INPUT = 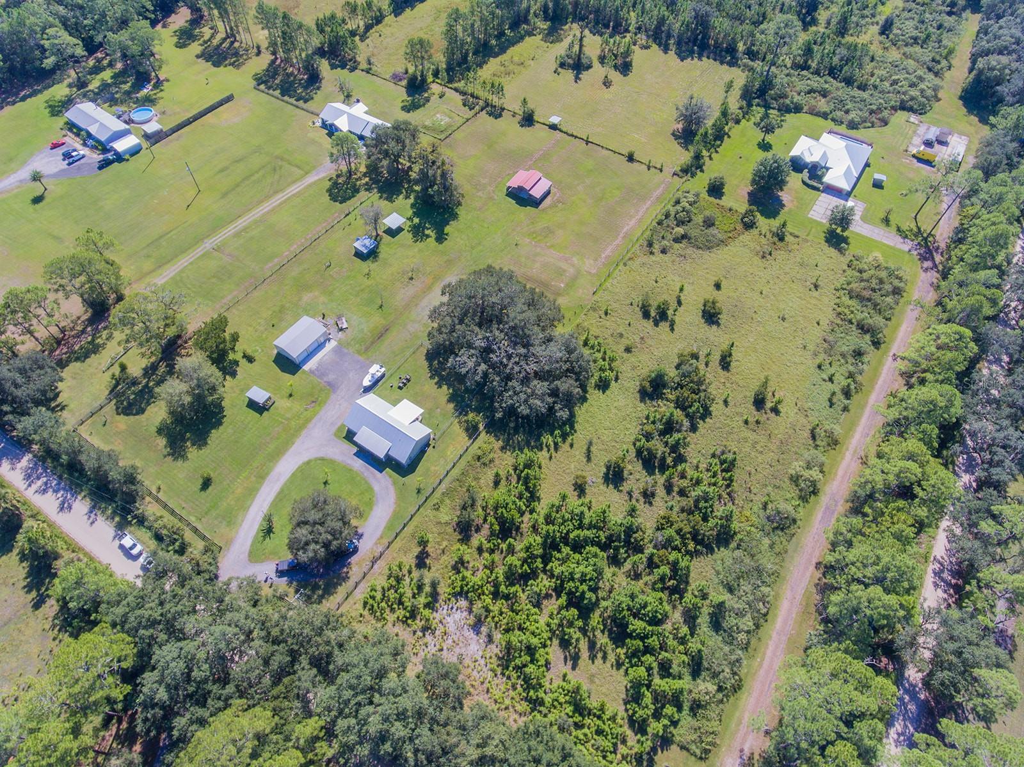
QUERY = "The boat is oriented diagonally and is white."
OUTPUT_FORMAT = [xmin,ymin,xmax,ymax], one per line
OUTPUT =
[363,360,389,386]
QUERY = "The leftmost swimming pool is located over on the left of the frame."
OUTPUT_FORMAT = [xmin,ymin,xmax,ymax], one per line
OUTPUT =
[126,106,155,123]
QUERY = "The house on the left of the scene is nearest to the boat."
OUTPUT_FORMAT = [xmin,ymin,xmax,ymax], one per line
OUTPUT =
[341,393,433,468]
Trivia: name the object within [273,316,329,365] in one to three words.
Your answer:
building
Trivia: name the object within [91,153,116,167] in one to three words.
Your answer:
vehicle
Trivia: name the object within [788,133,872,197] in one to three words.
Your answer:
house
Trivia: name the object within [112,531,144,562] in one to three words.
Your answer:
truck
